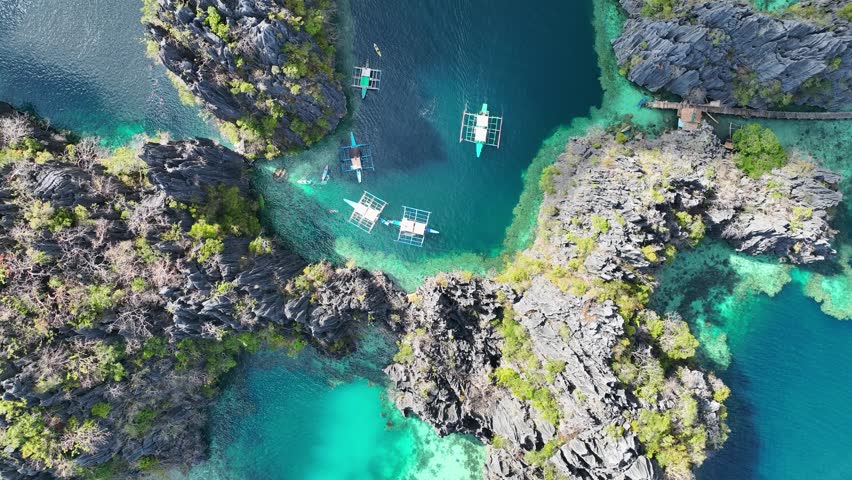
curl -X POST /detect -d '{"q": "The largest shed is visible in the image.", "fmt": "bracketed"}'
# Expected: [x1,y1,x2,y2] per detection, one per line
[673,111,703,132]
